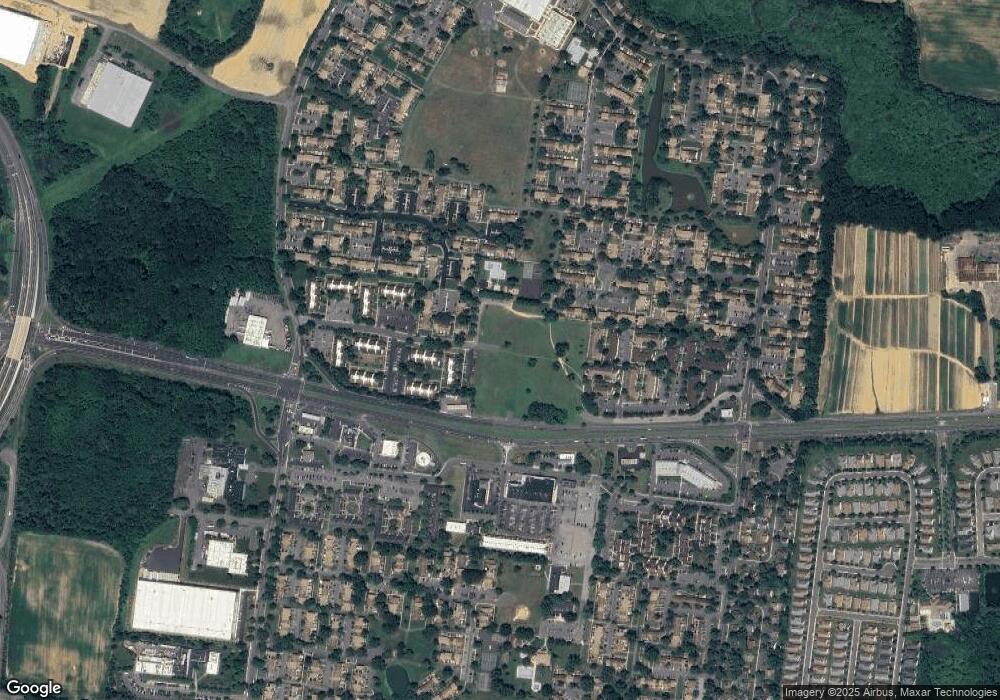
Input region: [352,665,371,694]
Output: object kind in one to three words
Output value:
house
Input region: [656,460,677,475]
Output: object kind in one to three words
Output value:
building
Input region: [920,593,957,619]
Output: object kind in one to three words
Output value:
building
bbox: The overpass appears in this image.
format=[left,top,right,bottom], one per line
[5,315,30,361]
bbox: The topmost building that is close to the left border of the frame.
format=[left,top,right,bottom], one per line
[0,8,38,64]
